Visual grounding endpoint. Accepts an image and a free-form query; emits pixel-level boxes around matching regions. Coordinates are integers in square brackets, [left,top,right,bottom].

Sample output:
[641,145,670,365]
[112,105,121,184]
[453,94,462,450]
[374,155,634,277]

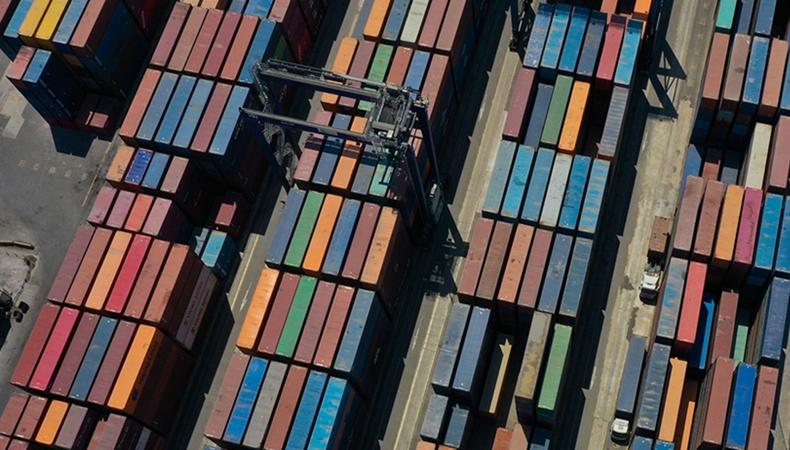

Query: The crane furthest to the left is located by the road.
[241,57,449,237]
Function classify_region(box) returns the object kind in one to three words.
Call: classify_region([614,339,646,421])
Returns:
shipping container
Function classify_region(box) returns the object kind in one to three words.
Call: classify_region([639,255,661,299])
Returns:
truck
